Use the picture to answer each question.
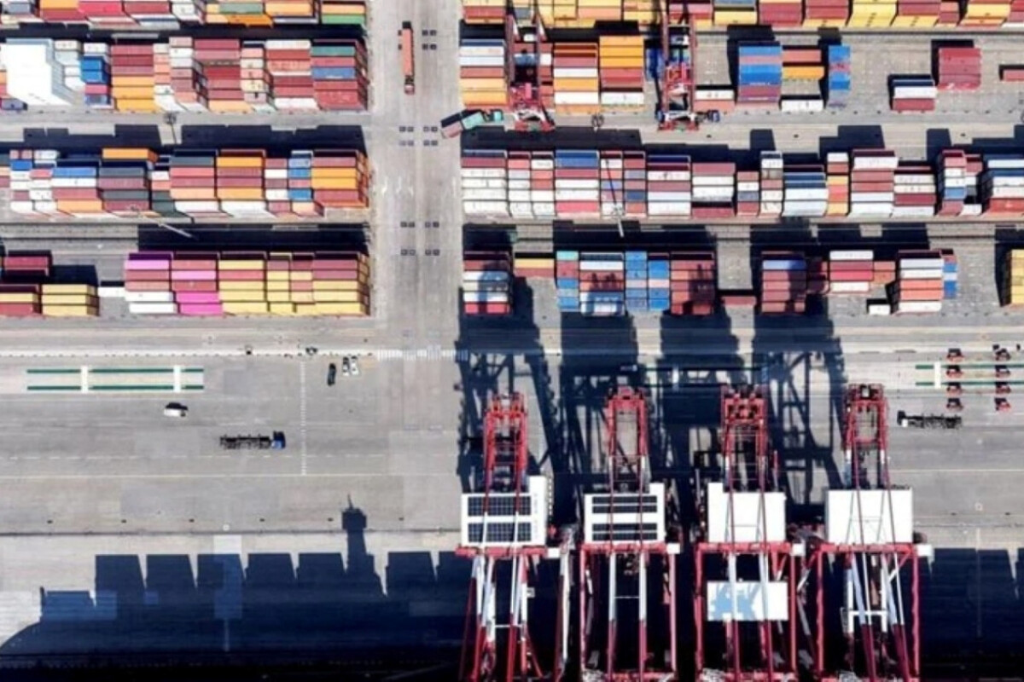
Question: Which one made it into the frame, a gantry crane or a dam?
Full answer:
The one in the frame is a gantry crane.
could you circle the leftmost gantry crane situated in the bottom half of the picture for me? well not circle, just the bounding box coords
[447,391,585,682]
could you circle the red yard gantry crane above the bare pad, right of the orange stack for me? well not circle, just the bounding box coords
[654,7,702,127]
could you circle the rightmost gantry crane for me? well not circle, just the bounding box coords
[780,381,923,682]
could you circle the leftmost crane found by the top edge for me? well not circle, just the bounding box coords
[507,8,558,128]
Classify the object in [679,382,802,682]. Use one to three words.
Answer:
container crane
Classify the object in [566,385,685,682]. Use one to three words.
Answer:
container crane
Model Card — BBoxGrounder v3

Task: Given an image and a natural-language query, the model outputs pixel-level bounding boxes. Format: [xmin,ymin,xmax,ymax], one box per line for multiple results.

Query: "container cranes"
[780,381,923,682]
[654,7,702,127]
[566,385,685,682]
[679,382,802,682]
[447,391,585,682]
[507,8,558,128]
